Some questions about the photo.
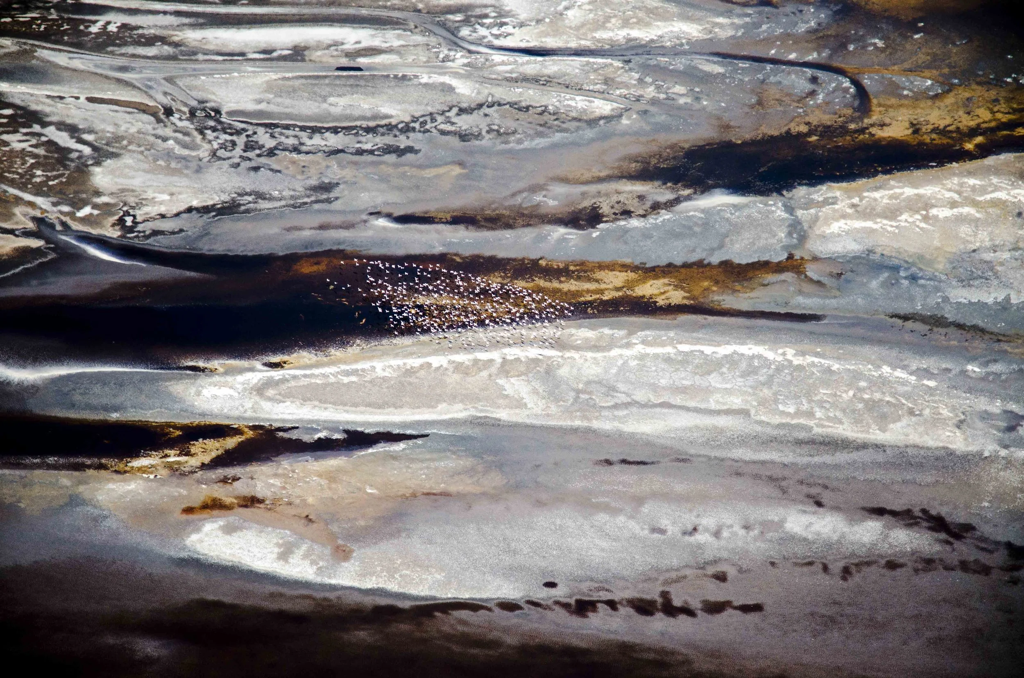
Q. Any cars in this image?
No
